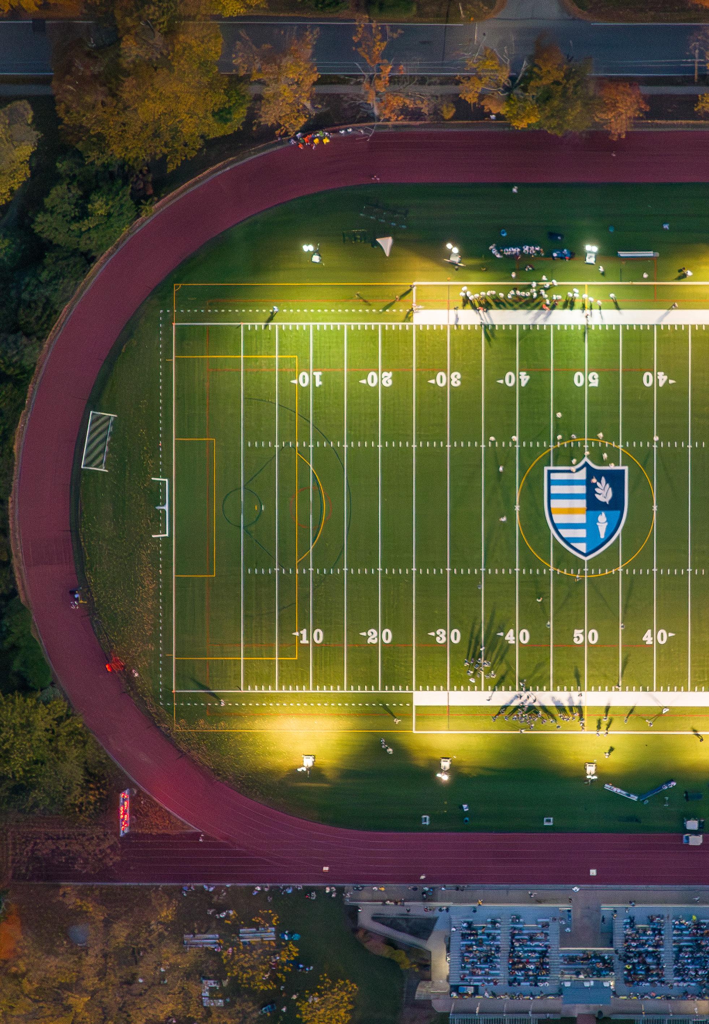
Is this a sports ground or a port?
sports ground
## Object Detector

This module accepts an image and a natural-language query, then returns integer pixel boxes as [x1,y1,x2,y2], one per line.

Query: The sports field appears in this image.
[70,182,709,832]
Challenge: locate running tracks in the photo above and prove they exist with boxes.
[8,129,709,887]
